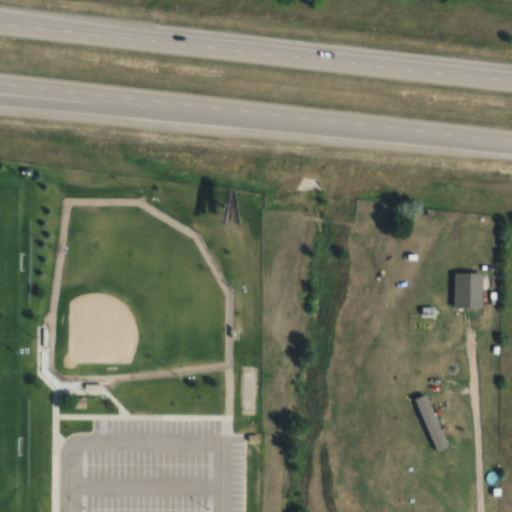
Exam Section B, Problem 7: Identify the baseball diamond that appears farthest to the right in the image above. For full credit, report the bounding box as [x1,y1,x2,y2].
[44,197,234,384]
